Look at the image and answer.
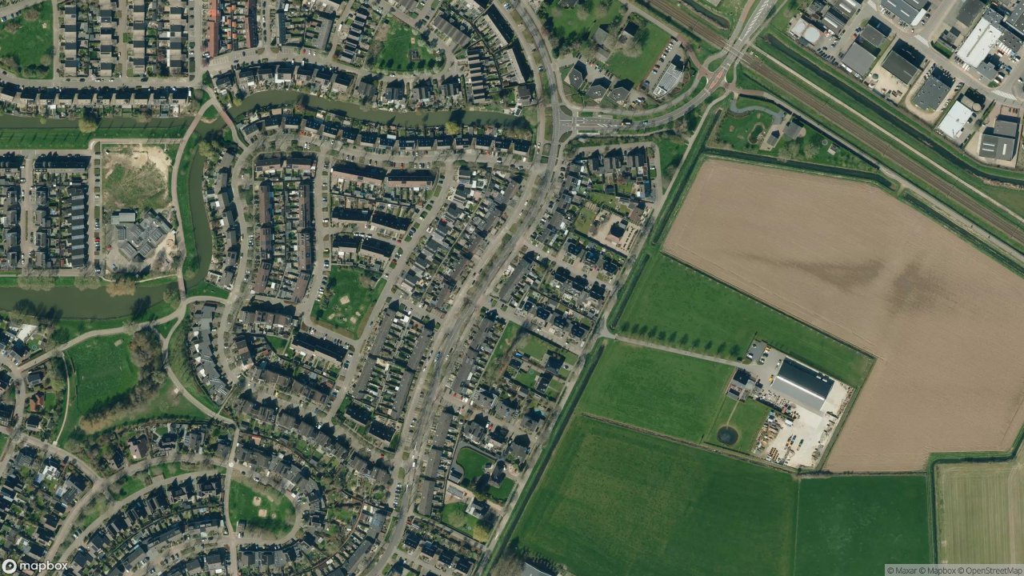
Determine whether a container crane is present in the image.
No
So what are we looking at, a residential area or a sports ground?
residential area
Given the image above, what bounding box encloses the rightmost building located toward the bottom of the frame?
[772,367,830,411]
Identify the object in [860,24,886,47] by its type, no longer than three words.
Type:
building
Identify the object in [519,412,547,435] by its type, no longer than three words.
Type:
house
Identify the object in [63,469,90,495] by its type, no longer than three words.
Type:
house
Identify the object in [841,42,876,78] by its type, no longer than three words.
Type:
building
